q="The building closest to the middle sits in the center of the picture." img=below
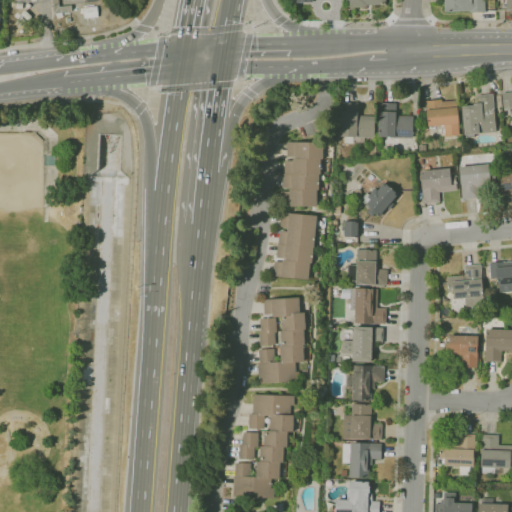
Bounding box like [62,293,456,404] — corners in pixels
[276,214,316,279]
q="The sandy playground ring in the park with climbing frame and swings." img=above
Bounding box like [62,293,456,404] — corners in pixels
[0,410,48,492]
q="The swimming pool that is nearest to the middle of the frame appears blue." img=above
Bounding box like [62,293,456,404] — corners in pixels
[338,250,354,268]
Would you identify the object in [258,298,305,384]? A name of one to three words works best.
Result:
building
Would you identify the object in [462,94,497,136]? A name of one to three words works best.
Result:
house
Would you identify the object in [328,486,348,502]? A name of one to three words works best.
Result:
swimming pool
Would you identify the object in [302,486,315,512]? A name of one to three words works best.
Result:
swimming pool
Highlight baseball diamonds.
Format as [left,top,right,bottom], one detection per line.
[0,128,58,222]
